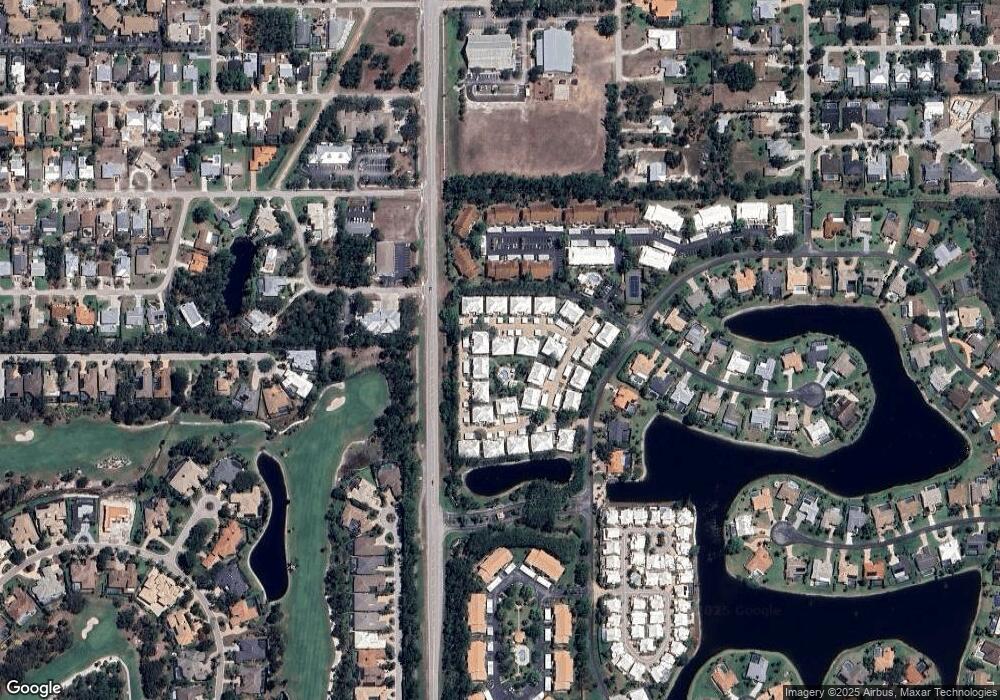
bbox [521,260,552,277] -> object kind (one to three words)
building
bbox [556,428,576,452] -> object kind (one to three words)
building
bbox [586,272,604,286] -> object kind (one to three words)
swimming pool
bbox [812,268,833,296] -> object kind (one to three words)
house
